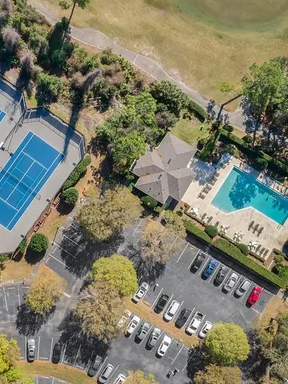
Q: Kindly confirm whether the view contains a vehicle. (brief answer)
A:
Yes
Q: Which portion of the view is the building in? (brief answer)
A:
center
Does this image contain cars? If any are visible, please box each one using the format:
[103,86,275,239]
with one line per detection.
[202,260,217,278]
[99,364,114,383]
[155,294,170,312]
[157,335,172,354]
[224,273,239,291]
[190,253,205,271]
[126,316,140,335]
[133,283,148,301]
[121,310,131,320]
[164,301,180,320]
[246,287,262,305]
[235,278,252,297]
[136,322,150,341]
[212,266,228,285]
[28,339,36,358]
[52,342,61,361]
[197,321,212,339]
[88,356,102,376]
[148,328,161,347]
[176,308,191,327]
